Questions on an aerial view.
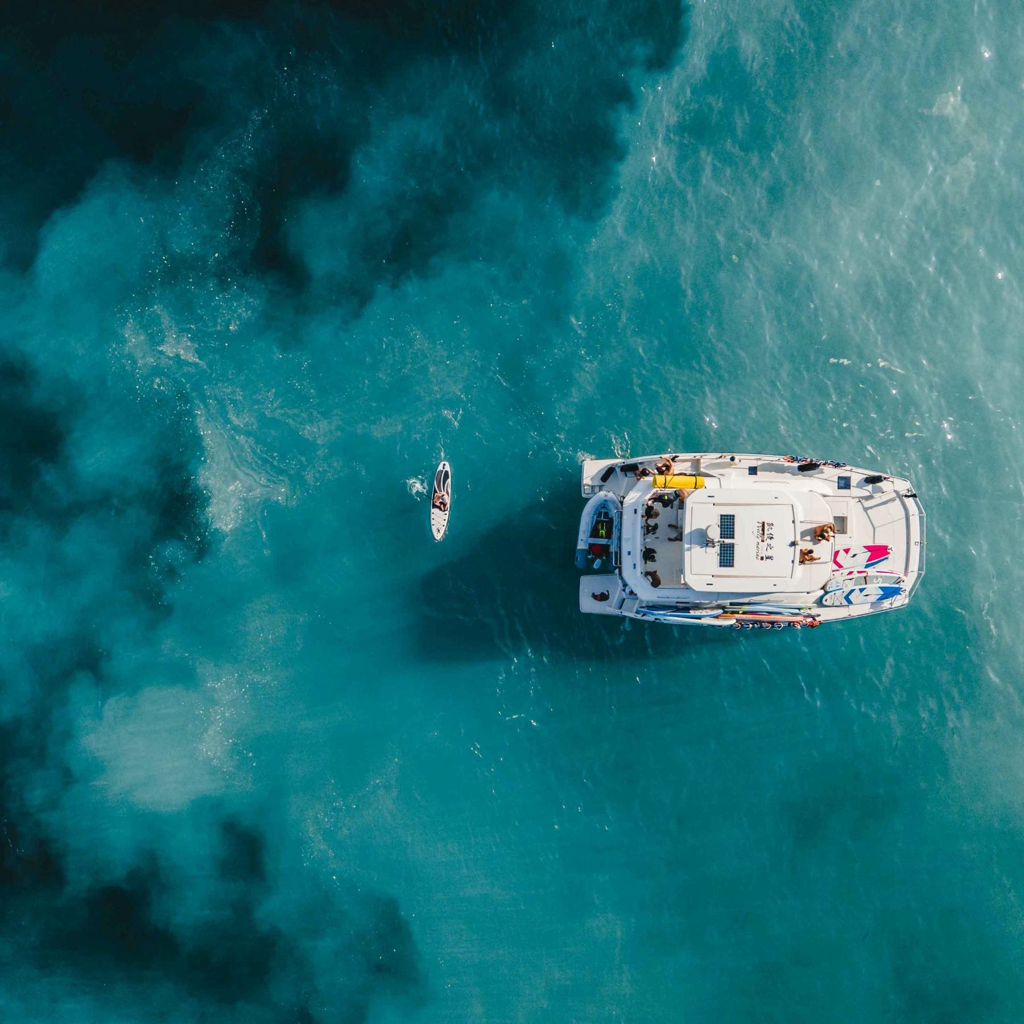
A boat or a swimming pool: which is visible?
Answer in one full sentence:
There is a boat in the scene.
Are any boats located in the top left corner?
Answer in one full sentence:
No, no boat appears in the top left corner.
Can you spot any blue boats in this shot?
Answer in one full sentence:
Yes, there's a blue boat here.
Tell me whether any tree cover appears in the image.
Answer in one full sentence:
No, tree cover can't be seen anywhere here.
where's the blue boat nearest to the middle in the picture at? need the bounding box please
[575,493,623,569]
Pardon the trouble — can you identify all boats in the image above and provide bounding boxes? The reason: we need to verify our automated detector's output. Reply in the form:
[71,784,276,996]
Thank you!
[580,453,927,623]
[575,493,623,569]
